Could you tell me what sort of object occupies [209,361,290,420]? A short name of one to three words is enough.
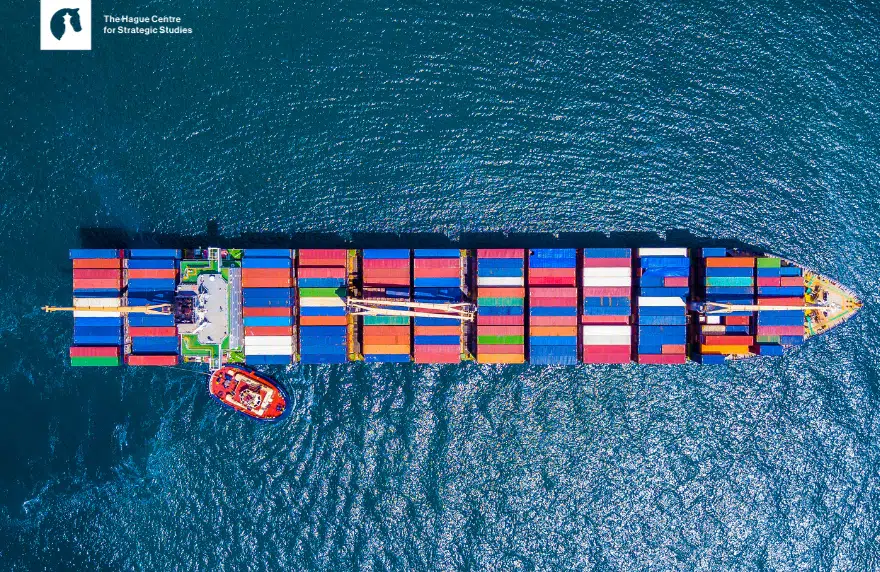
boat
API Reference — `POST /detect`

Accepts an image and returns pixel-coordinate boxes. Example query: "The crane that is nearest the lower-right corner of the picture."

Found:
[688,302,834,318]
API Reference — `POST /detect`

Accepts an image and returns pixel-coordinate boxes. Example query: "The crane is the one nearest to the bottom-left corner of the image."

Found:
[40,300,172,314]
